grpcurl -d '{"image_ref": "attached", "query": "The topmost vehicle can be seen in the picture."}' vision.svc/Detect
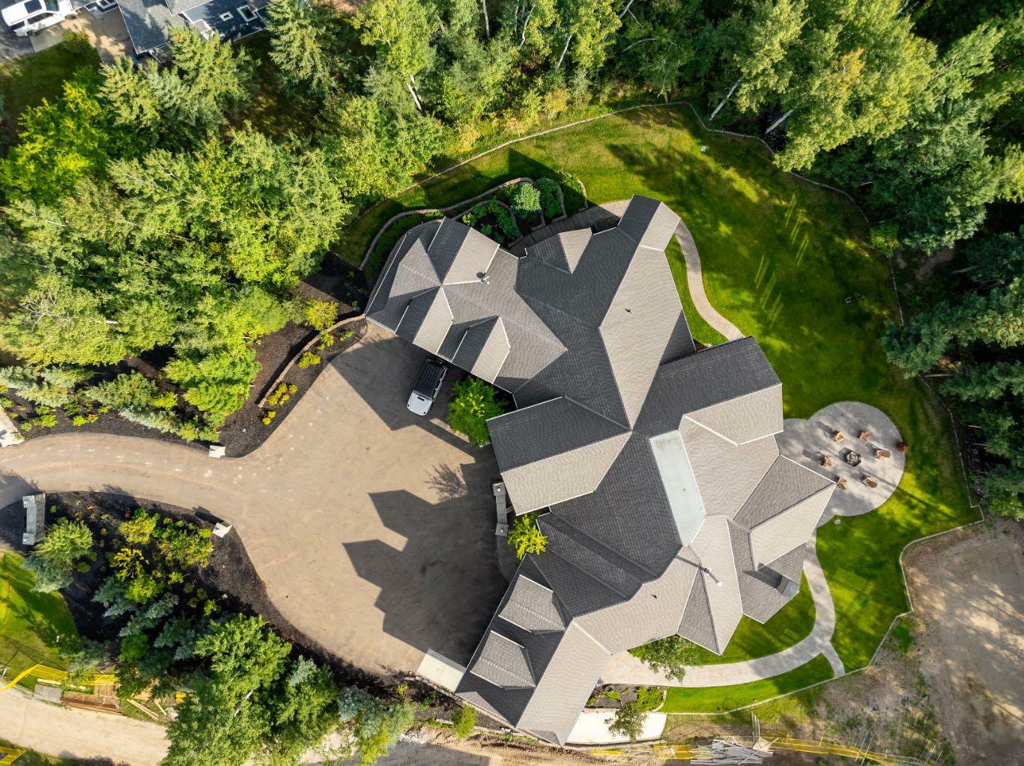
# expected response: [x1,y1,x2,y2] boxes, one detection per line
[3,0,75,41]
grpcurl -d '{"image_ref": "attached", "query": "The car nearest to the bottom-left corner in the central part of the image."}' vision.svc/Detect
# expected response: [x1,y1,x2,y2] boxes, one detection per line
[408,359,448,416]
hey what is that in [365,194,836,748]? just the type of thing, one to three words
house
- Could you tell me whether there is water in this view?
No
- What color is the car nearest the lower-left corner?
black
